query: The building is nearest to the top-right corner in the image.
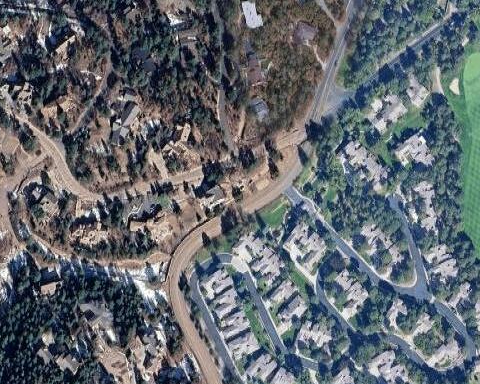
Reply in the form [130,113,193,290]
[403,79,434,106]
